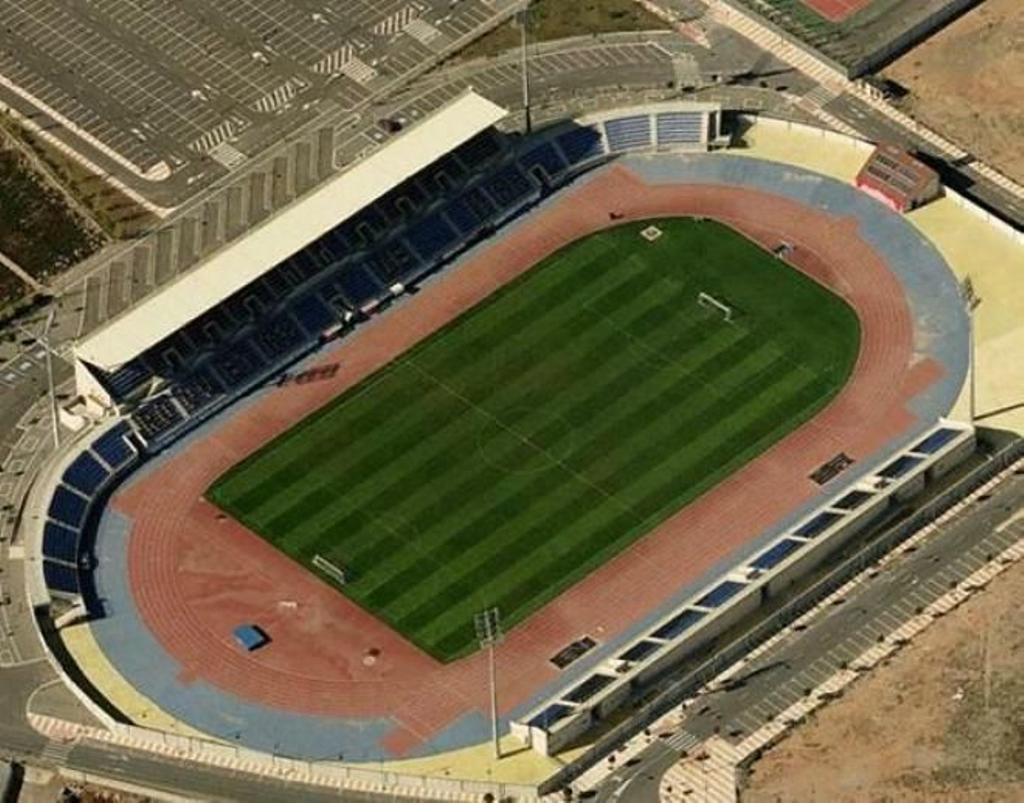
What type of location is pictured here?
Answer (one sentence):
What you see here is a sports ground.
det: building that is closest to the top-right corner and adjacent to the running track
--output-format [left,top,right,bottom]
[852,143,938,216]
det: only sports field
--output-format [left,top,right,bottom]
[204,214,857,662]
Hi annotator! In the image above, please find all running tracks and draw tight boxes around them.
[126,178,918,715]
